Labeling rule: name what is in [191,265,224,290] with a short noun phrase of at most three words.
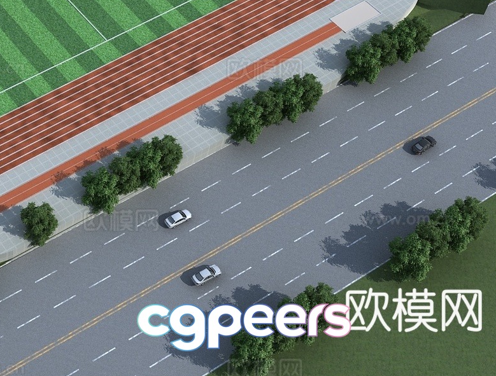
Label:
car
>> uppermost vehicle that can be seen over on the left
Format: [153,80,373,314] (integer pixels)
[165,209,196,232]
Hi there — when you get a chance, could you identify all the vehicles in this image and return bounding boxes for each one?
[412,137,441,157]
[191,265,224,290]
[165,209,196,232]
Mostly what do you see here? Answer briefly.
paved ground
